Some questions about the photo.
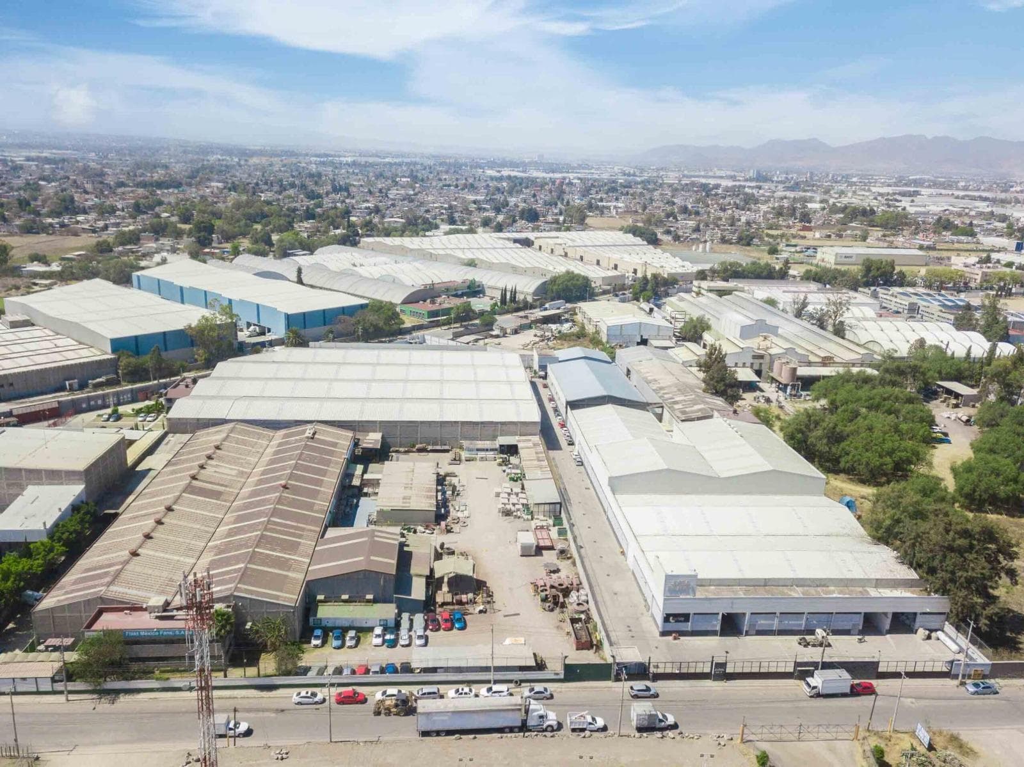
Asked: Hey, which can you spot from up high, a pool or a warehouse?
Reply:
warehouse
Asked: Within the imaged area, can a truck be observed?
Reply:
Yes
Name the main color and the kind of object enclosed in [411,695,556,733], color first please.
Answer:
white truck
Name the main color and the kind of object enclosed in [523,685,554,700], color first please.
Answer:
gray car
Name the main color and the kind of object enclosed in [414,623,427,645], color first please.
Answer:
white vehicle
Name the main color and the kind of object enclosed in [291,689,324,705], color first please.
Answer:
white car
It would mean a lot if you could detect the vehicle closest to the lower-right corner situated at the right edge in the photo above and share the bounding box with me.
[966,680,999,695]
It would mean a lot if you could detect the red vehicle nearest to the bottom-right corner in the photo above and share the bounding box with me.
[850,681,881,695]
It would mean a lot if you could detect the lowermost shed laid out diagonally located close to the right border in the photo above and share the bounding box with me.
[934,381,979,409]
